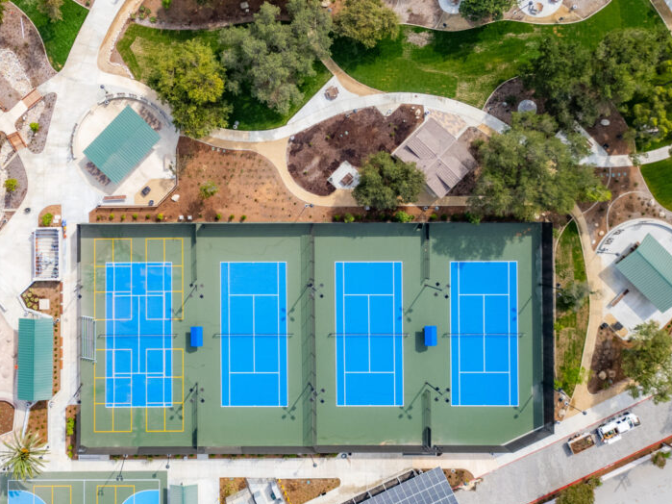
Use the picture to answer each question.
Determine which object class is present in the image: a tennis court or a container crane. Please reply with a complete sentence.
It is a tennis court that can be seen here.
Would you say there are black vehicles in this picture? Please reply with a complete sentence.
No, this view has no black vehicle in it.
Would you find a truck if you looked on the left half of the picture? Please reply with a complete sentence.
No, there is no truck on the left half of the picture.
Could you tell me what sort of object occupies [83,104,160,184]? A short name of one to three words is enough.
building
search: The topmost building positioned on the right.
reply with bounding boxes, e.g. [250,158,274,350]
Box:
[393,118,477,198]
